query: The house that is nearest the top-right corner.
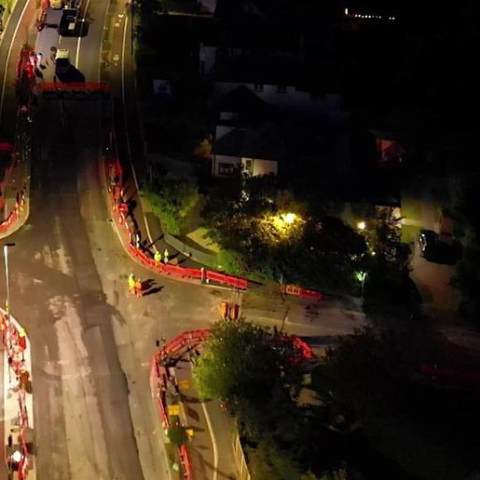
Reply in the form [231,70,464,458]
[363,105,416,167]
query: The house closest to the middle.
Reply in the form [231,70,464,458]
[208,115,286,181]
